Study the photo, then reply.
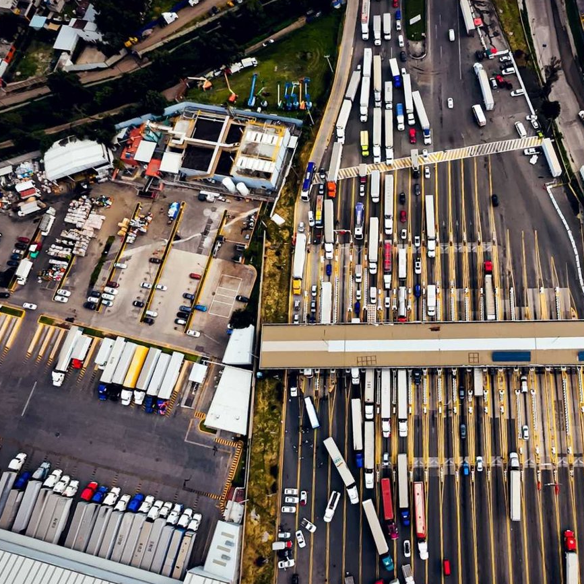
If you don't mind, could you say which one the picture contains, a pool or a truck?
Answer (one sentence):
It is a truck that can be seen here.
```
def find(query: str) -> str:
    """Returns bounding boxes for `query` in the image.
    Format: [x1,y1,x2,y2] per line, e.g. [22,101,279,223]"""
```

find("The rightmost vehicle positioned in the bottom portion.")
[564,530,578,584]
